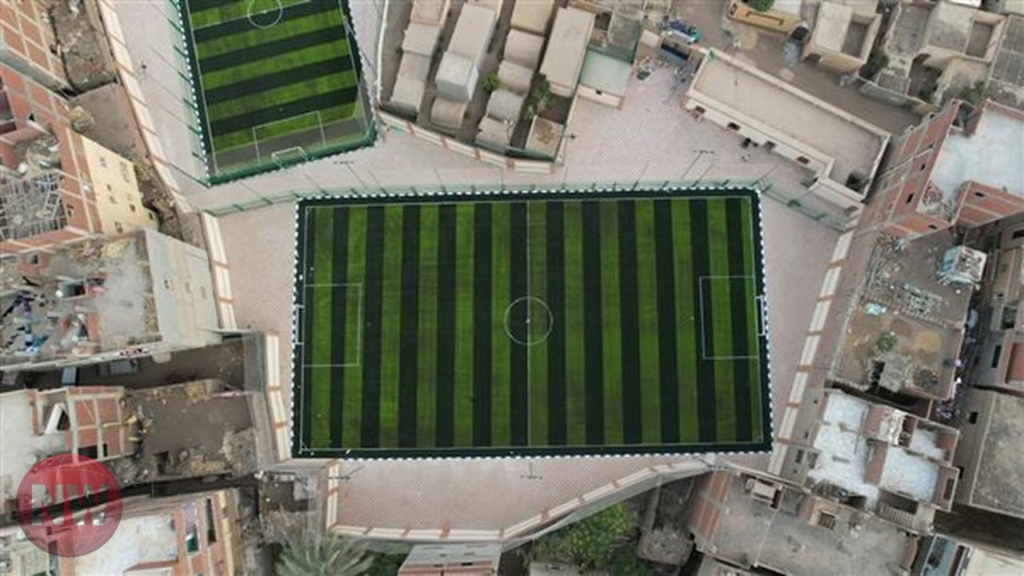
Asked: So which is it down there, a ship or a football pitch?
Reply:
football pitch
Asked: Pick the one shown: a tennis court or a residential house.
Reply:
residential house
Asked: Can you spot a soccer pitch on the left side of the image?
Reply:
Yes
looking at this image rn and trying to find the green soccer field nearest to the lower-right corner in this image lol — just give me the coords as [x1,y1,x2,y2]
[291,188,775,462]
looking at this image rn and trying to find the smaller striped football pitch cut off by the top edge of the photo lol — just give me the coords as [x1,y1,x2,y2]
[179,0,381,189]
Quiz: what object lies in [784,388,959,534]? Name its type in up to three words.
house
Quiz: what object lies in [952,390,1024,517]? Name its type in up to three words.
house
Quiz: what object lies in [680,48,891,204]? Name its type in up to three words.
building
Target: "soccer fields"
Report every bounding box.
[179,0,381,189]
[291,188,775,462]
